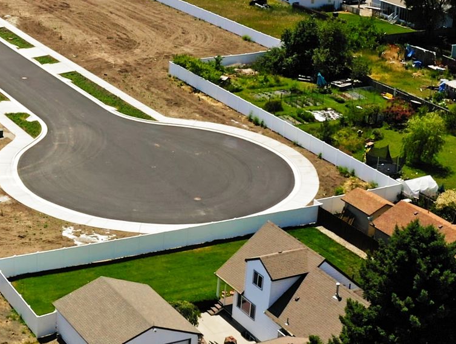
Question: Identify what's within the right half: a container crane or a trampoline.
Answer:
trampoline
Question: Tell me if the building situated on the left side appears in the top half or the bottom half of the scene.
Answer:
bottom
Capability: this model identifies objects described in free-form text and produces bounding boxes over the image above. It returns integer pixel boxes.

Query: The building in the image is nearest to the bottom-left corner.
[50,273,202,344]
